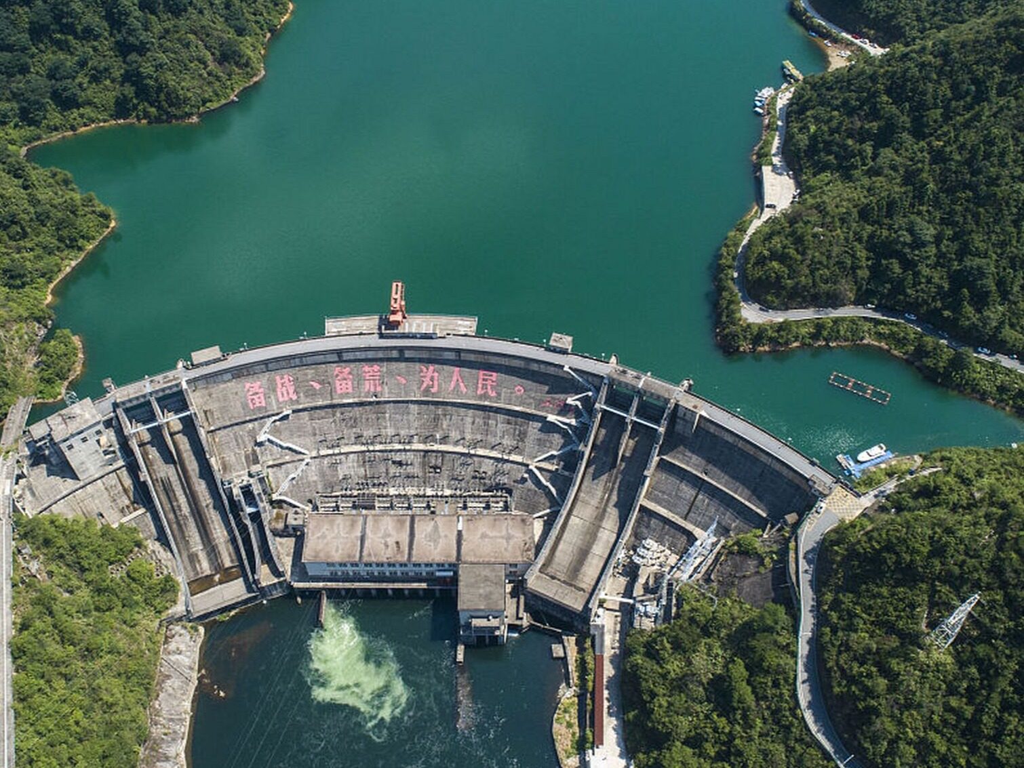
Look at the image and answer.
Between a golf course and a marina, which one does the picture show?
marina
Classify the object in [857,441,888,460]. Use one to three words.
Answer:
boat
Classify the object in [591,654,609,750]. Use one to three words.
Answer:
building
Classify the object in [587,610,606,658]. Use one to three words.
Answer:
shed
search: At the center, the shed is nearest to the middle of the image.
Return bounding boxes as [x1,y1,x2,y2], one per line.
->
[547,332,573,357]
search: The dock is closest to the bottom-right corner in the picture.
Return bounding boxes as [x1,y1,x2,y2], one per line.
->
[843,452,894,479]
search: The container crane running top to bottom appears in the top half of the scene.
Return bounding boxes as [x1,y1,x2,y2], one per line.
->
[389,276,408,325]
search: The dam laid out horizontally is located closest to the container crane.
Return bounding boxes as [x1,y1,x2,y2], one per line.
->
[0,334,837,565]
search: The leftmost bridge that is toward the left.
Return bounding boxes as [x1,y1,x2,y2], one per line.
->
[0,389,39,455]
